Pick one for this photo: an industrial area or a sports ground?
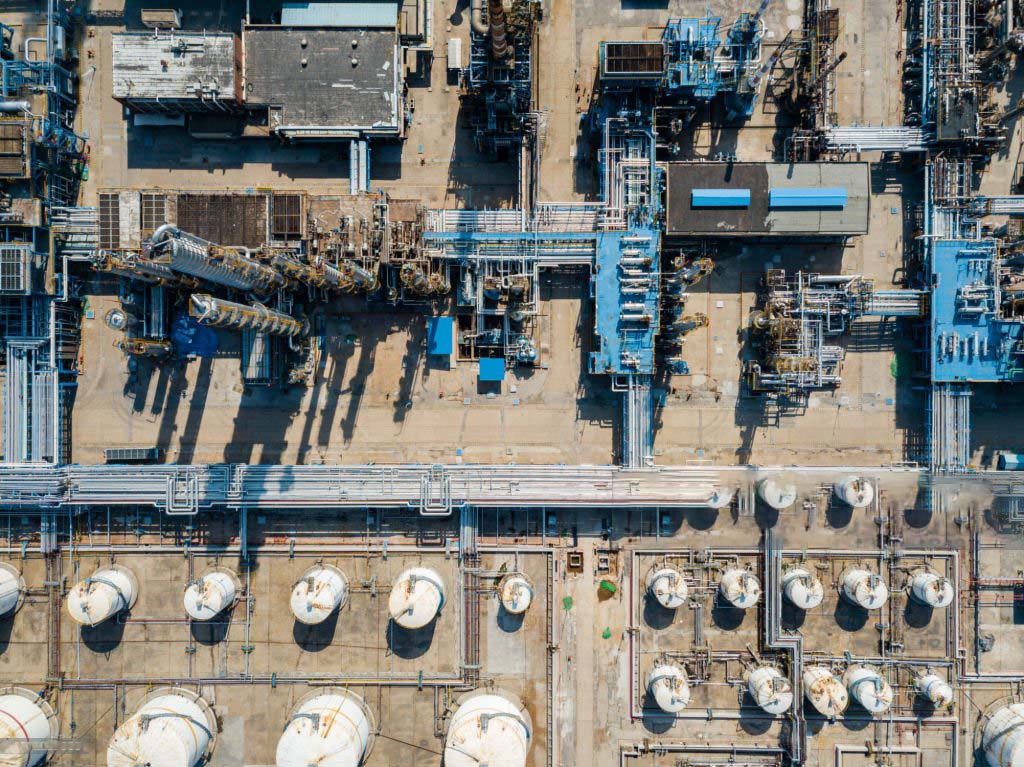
industrial area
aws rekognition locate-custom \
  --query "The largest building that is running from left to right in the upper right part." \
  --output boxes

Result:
[660,163,869,241]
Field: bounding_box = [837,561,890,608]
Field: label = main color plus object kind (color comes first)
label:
white storage tank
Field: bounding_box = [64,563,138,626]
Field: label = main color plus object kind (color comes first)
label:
white storage tank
